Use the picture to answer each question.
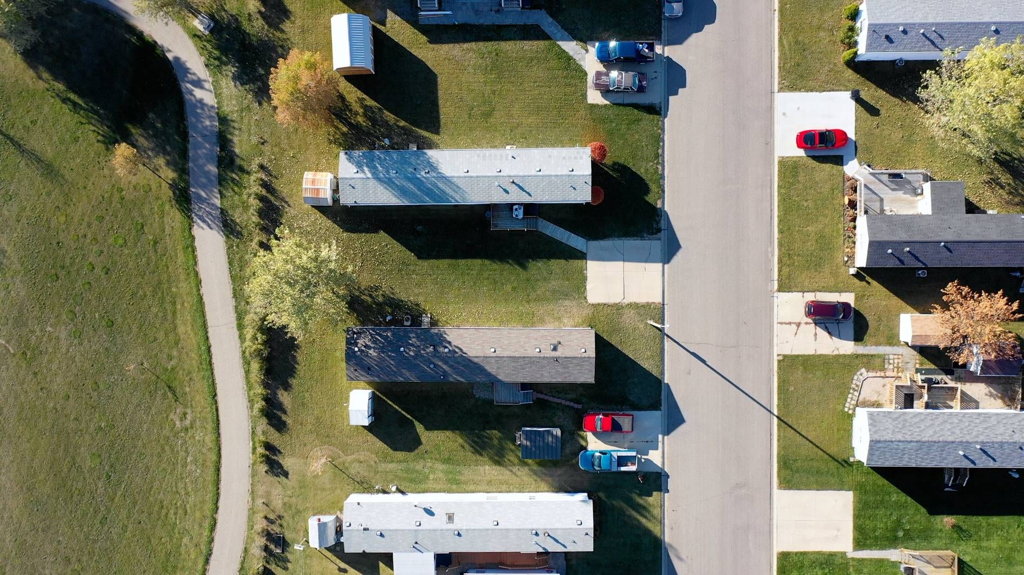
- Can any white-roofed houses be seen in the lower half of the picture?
Yes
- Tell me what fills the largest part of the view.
paved ground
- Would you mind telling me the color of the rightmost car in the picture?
red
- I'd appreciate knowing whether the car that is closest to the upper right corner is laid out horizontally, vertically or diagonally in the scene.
horizontally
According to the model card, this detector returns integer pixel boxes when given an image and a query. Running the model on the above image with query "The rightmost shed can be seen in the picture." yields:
[981,349,1024,377]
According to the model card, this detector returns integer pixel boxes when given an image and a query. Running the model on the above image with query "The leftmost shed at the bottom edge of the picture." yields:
[309,518,338,553]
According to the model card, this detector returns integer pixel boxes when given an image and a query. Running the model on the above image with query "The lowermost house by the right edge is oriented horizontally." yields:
[854,409,1024,467]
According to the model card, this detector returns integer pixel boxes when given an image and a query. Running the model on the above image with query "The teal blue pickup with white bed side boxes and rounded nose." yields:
[578,449,637,475]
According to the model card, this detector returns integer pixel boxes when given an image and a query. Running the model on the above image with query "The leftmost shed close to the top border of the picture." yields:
[332,12,373,75]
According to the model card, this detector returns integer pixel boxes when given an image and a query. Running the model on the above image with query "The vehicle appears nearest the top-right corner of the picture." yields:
[795,127,847,150]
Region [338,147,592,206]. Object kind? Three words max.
house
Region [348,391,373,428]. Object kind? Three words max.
shed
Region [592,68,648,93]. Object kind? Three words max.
car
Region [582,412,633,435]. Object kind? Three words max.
truck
